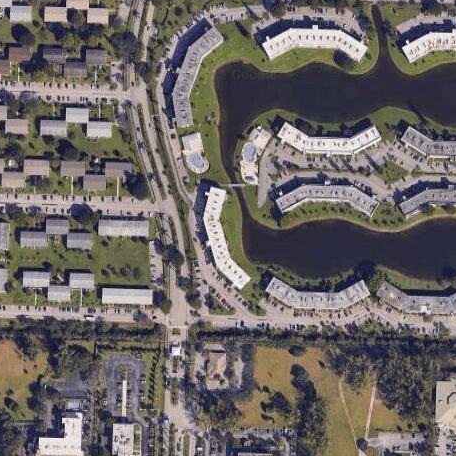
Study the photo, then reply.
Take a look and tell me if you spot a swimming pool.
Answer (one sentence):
Yes, looking at the shot, I can spot a swimming pool.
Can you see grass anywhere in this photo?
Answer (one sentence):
Yes, some grass is visible.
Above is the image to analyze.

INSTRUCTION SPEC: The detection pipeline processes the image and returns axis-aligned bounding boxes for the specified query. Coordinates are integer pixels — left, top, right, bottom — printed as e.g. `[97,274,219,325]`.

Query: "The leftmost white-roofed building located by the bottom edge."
[36,412,83,456]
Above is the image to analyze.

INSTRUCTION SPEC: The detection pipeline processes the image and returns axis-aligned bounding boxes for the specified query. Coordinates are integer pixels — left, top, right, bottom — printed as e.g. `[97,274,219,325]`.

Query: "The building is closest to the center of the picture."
[204,187,251,290]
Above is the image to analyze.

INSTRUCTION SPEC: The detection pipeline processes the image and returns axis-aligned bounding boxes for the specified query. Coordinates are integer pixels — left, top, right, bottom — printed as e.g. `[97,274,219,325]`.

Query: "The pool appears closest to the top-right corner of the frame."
[240,142,265,184]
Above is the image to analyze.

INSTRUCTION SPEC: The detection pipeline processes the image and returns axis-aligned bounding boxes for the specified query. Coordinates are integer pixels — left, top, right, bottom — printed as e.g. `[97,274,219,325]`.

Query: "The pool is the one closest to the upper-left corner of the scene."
[183,150,209,175]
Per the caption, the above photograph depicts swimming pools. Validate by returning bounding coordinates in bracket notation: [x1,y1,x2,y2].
[240,142,265,184]
[183,150,209,175]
